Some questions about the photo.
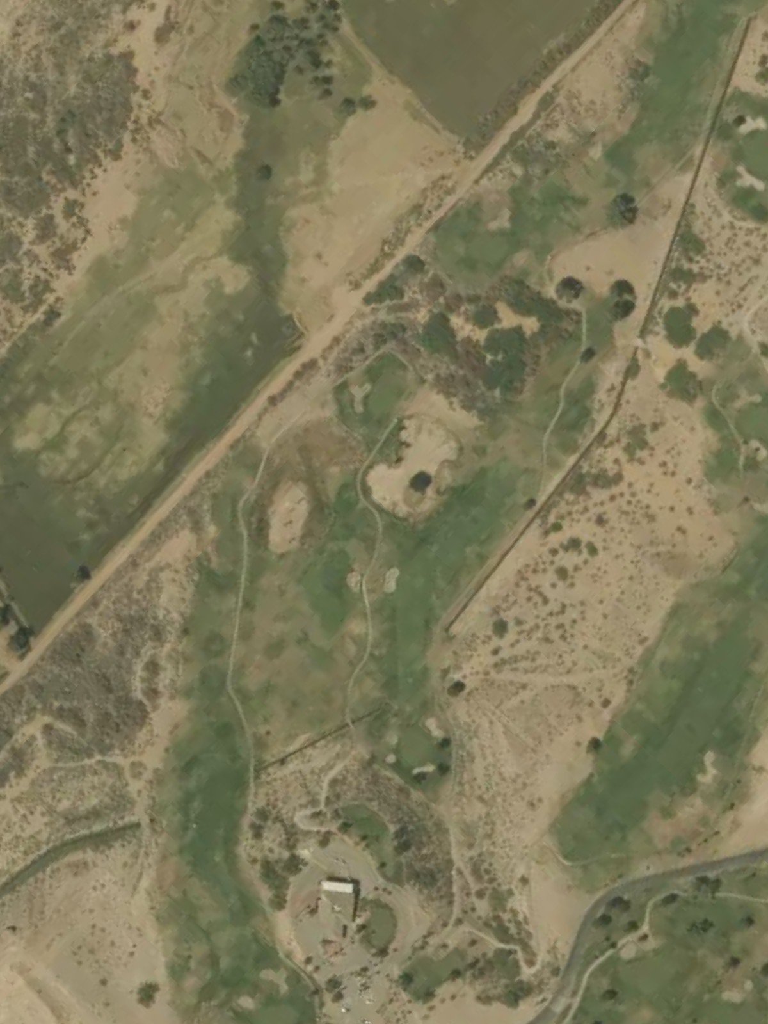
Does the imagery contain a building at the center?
No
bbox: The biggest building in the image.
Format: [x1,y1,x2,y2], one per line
[321,883,354,923]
